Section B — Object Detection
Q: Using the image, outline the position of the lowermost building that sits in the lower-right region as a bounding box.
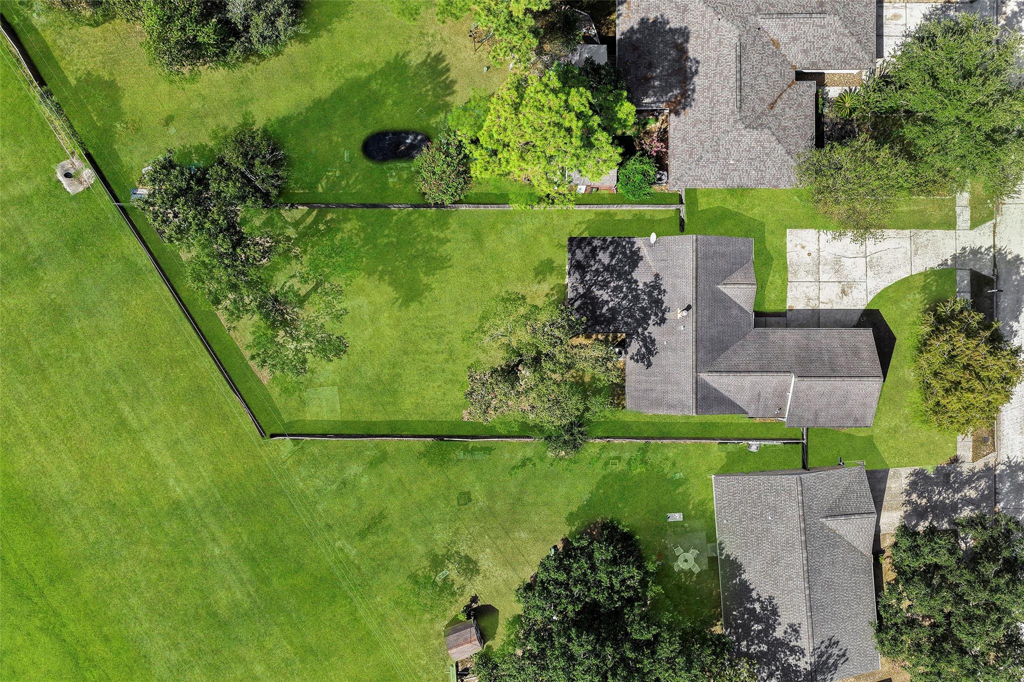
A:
[707,462,882,682]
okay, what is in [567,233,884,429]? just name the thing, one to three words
house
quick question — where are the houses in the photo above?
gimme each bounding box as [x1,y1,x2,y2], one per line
[707,462,882,682]
[614,0,878,192]
[567,233,884,429]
